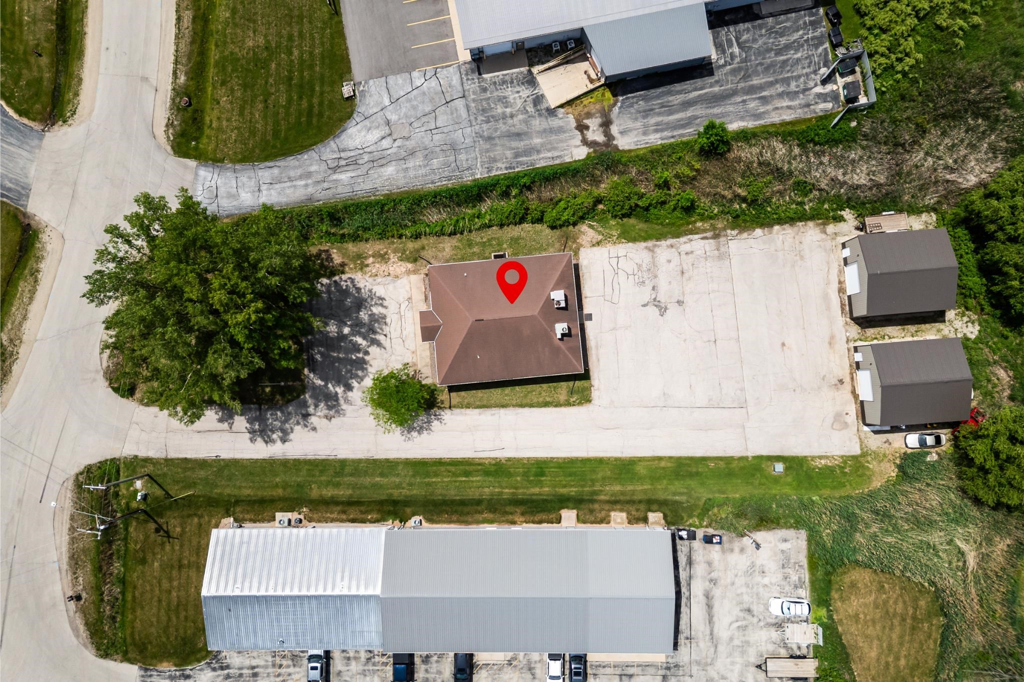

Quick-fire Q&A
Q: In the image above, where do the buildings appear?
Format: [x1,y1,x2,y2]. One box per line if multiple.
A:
[454,0,766,84]
[201,525,676,654]
[854,337,973,425]
[420,251,584,387]
[843,228,959,318]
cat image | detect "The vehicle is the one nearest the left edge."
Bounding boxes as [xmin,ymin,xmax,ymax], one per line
[305,652,327,682]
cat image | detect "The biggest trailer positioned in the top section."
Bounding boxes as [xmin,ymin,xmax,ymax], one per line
[855,210,909,234]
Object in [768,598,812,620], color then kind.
white car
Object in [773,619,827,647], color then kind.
white trailer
